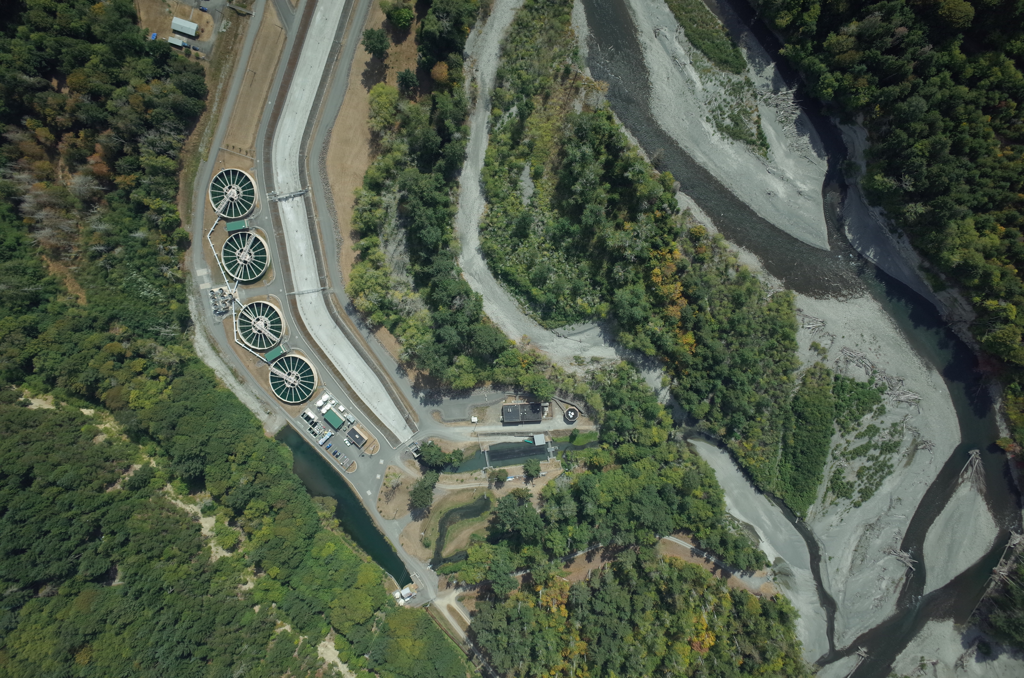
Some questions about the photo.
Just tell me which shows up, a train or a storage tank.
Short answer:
storage tank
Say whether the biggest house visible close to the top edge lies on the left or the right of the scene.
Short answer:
left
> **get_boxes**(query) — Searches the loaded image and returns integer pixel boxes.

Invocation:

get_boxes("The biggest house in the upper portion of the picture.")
[171,17,199,37]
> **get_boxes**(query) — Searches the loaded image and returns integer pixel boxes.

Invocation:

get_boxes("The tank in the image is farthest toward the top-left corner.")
[209,169,259,218]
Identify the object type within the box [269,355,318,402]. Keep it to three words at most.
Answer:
storage tank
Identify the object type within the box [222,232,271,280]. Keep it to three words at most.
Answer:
storage tank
